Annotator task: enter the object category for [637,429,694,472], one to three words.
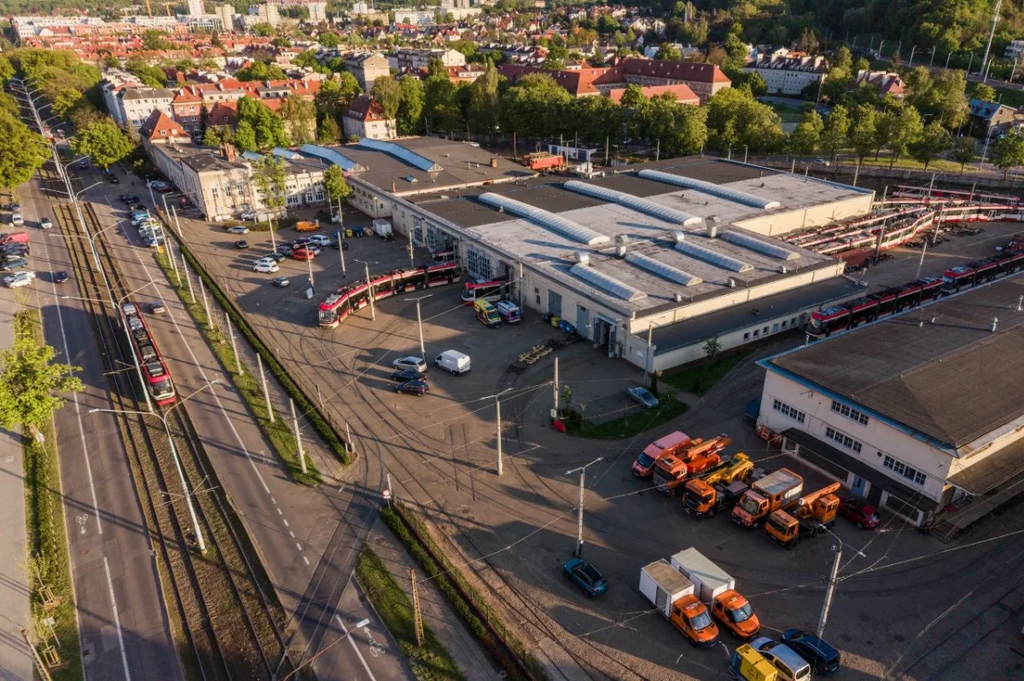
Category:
van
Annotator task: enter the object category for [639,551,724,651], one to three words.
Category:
truck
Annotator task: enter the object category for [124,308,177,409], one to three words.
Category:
train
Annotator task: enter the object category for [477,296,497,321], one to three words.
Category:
vehicle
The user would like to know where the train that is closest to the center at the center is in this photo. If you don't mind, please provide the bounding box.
[464,272,499,303]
